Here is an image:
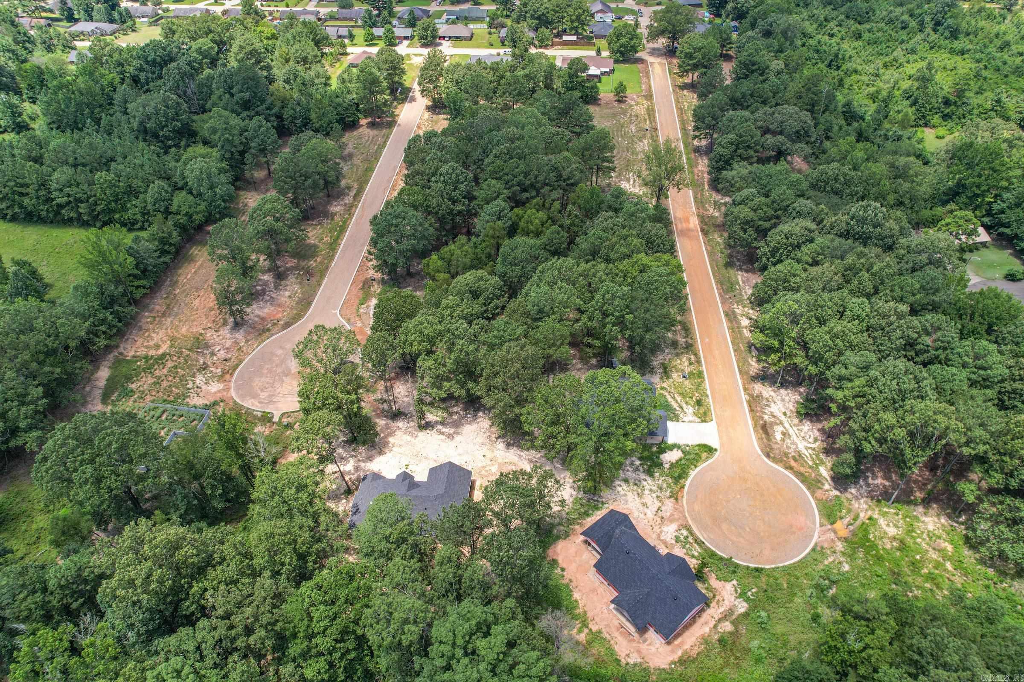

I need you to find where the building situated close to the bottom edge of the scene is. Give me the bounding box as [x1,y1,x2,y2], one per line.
[579,509,711,649]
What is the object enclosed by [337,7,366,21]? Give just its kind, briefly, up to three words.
house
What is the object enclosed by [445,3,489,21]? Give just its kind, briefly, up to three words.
house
